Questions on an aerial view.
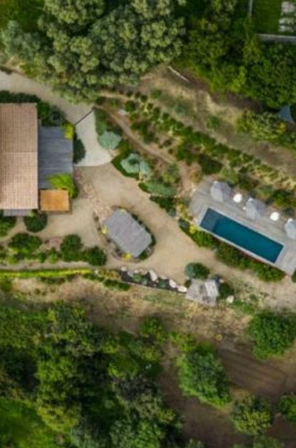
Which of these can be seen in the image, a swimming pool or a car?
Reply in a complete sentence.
Visible in the photo is a swimming pool.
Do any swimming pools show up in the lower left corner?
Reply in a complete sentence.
No, the scene shows no swimming pool in the lower left corner.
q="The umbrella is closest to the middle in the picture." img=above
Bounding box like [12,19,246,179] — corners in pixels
[209,181,230,202]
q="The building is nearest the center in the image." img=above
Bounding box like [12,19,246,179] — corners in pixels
[103,208,153,259]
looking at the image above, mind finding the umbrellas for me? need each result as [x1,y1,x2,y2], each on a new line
[281,217,296,238]
[209,181,230,202]
[243,198,265,218]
